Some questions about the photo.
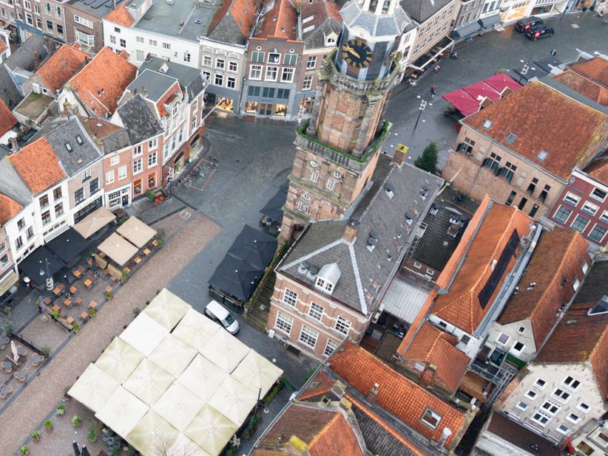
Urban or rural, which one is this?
urban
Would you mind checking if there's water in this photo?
No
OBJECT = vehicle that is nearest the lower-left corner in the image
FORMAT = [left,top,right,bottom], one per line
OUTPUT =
[203,293,245,336]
